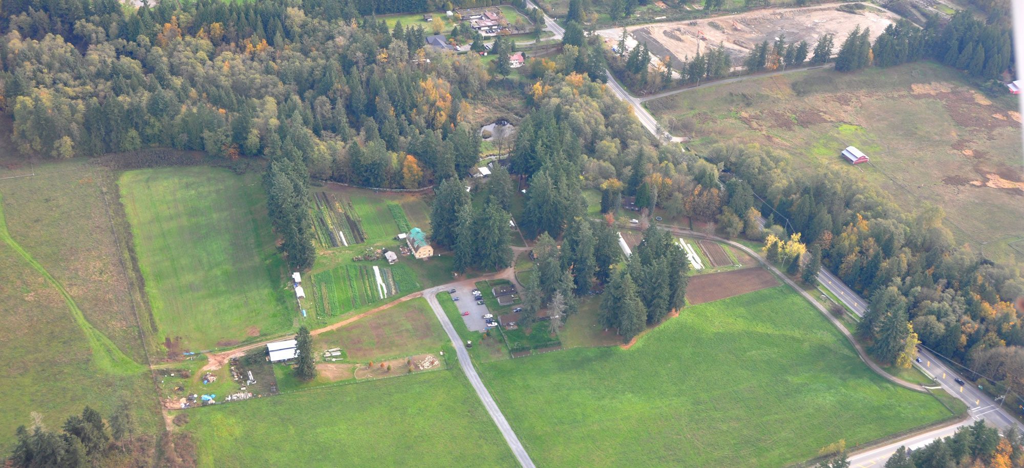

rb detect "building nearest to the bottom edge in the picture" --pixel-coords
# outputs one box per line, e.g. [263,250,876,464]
[266,337,301,364]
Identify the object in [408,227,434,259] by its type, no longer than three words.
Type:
barn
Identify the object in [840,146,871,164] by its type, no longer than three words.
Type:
barn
